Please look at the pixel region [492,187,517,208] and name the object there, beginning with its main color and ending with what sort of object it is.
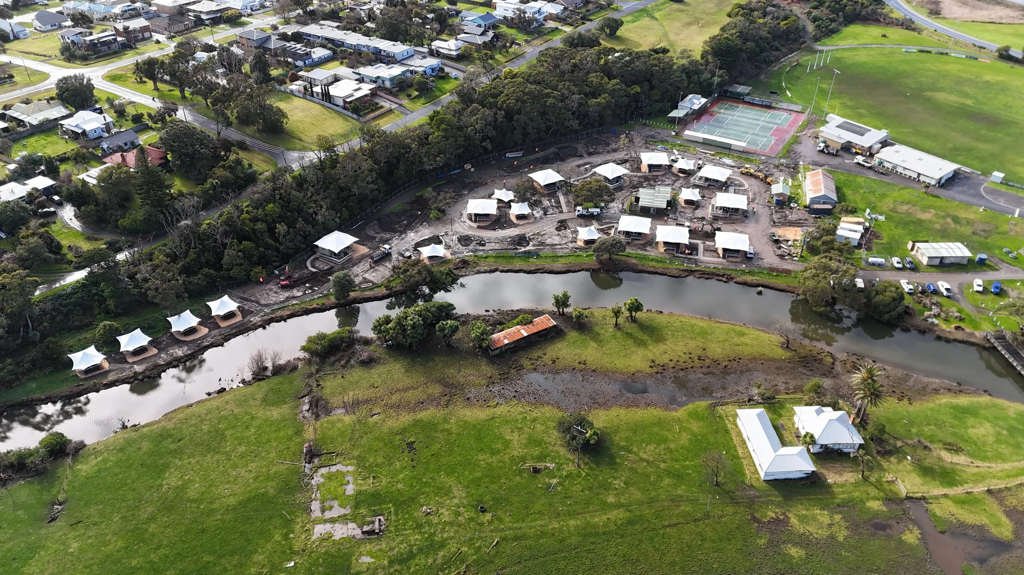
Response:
white tent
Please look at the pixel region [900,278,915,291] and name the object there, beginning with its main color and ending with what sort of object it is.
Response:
white vehicle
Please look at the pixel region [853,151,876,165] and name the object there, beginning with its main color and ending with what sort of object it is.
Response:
white vehicle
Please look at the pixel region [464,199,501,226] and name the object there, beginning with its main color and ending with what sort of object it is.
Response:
white tent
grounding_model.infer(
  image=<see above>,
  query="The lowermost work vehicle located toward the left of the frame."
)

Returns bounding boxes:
[277,262,291,287]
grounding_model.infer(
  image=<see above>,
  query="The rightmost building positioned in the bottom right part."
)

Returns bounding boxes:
[795,397,865,455]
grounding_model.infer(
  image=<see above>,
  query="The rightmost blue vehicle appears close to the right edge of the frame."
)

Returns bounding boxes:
[991,277,1003,292]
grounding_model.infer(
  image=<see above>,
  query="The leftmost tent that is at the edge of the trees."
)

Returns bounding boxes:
[61,344,116,379]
